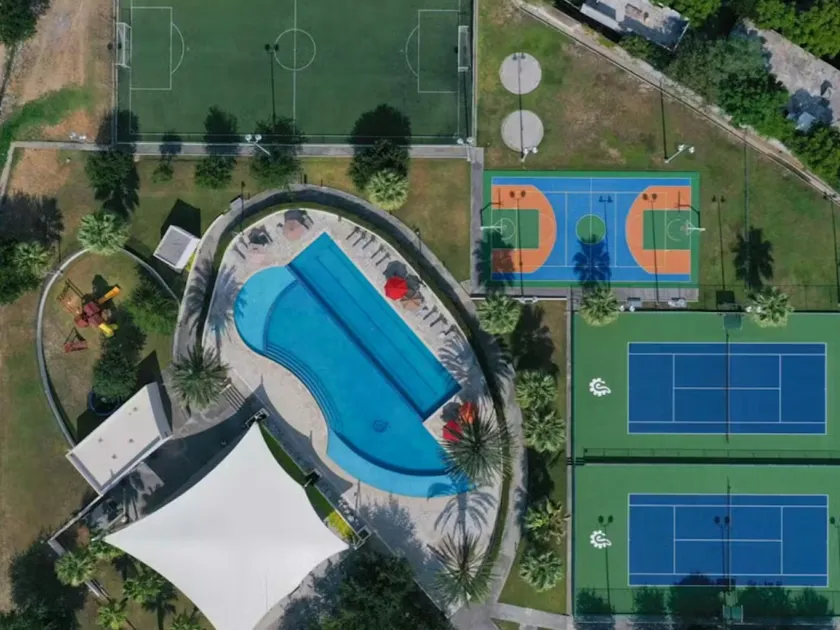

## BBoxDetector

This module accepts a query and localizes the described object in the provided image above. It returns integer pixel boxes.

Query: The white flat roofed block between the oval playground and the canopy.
[66,381,180,493]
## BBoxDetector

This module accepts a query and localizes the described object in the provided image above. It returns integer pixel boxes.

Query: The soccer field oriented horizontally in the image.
[116,0,473,146]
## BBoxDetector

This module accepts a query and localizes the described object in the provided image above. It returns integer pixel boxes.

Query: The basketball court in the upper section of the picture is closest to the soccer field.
[484,171,700,288]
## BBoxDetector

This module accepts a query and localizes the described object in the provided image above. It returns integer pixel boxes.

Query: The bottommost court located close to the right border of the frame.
[575,463,840,623]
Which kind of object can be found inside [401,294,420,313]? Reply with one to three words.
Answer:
umbrella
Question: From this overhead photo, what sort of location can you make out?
sports ground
